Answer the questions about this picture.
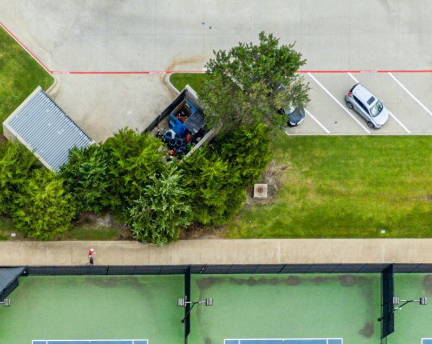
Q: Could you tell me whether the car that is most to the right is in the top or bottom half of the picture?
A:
top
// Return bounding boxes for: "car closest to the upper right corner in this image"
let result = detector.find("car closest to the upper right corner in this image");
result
[344,82,392,129]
